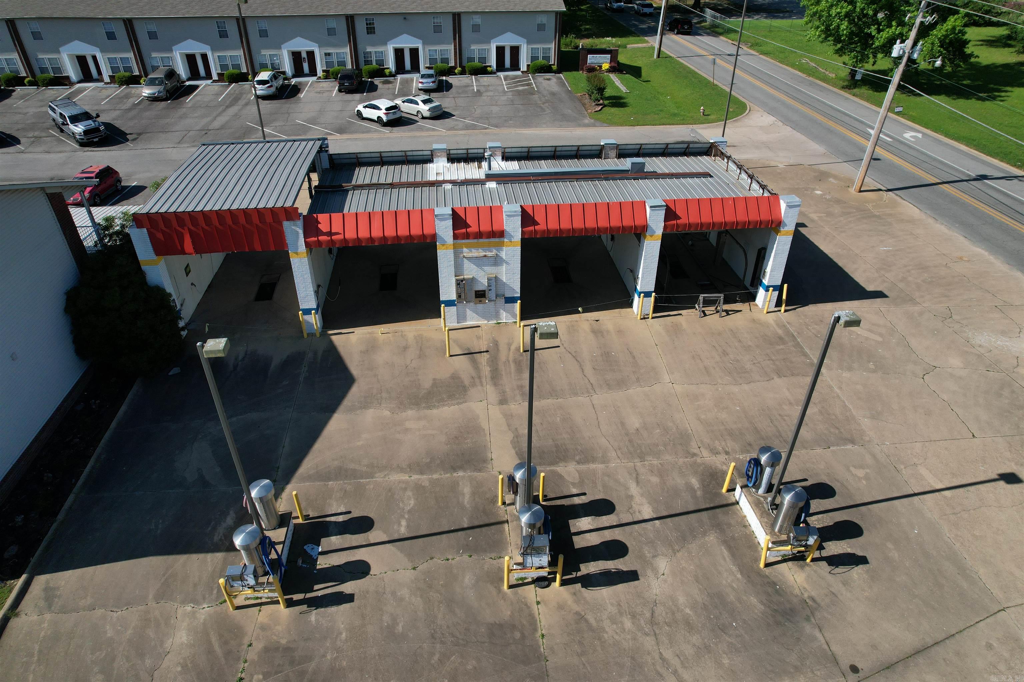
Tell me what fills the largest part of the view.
paved ground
